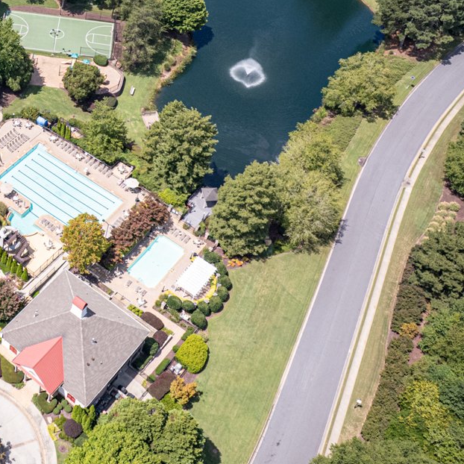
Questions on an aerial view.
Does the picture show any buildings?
Yes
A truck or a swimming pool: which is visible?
swimming pool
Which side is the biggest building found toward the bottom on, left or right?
left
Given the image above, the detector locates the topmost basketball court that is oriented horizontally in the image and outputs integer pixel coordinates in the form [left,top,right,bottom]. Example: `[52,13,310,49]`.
[0,7,118,61]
